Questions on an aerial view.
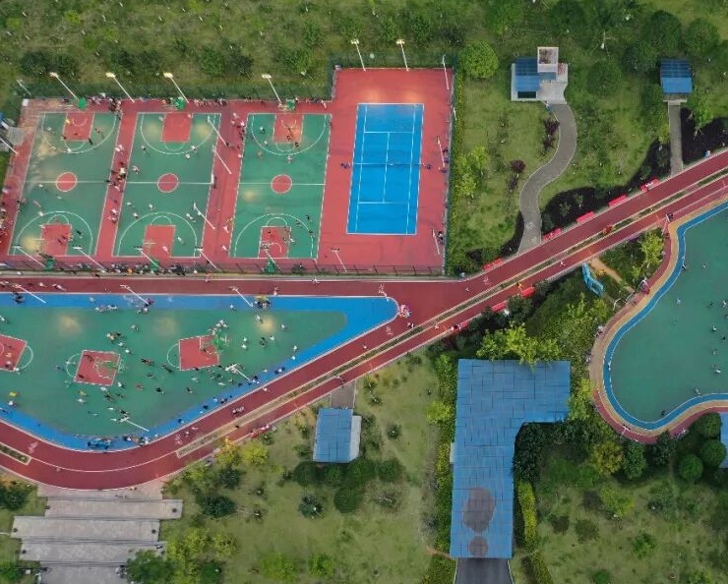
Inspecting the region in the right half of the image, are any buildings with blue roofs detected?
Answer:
Yes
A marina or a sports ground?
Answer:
sports ground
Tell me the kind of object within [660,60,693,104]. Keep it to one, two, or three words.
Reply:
building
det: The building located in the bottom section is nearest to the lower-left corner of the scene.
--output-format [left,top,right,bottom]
[314,409,365,464]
